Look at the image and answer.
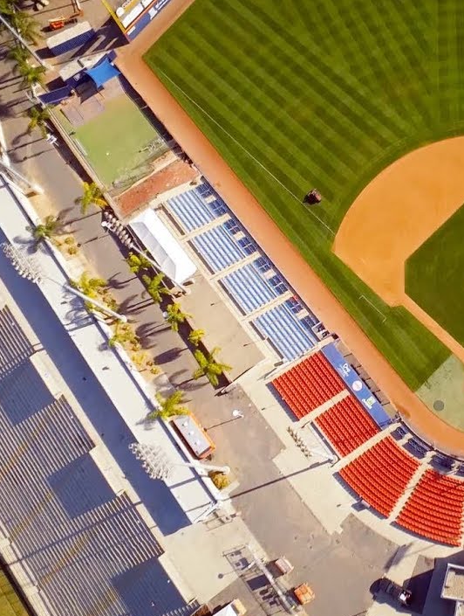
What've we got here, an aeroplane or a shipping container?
shipping container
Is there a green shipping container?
No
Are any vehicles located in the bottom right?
Yes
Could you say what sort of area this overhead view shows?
sports ground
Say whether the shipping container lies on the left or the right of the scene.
left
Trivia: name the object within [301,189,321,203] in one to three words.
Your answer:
work vehicle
